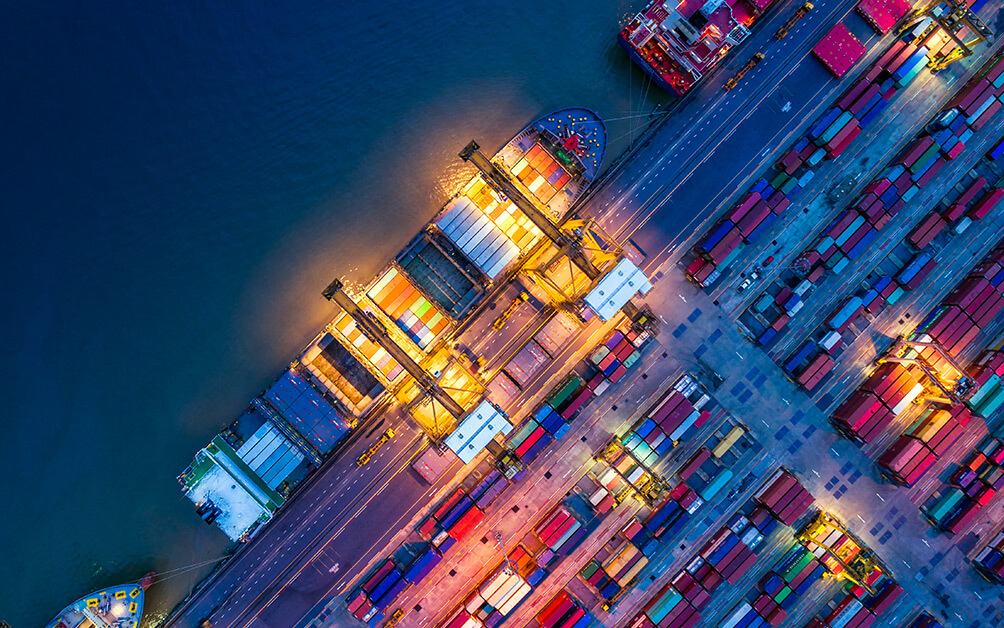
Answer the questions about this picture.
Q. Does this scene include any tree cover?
No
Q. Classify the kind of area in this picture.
port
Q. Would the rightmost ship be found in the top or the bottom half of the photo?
top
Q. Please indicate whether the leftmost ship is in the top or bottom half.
bottom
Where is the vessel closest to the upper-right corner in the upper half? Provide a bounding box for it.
[619,0,775,96]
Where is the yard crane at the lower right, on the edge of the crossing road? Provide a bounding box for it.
[795,511,898,597]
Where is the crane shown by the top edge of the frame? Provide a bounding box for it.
[887,0,993,69]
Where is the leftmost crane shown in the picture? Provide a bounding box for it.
[319,277,532,485]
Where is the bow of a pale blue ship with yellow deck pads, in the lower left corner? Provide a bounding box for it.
[44,572,157,628]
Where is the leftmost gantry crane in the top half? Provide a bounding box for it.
[454,139,666,350]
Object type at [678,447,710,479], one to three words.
shipping container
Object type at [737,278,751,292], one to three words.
vehicle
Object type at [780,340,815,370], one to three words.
shipping container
